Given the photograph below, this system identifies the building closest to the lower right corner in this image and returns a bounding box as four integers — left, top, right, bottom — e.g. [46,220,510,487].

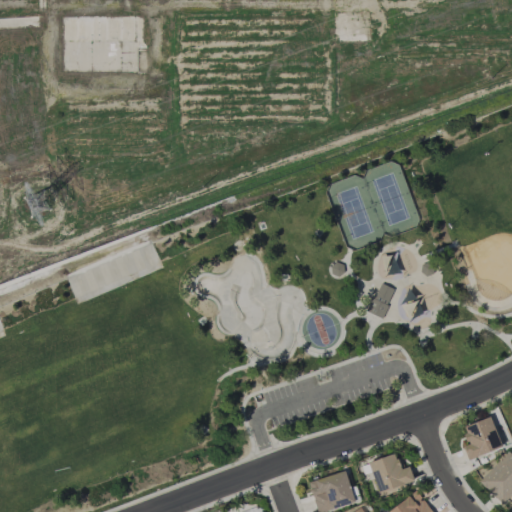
[482,454,512,504]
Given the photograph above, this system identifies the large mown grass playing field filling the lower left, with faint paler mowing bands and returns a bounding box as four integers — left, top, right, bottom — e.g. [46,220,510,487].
[0,250,242,512]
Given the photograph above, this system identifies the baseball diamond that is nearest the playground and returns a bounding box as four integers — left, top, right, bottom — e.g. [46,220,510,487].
[431,118,512,301]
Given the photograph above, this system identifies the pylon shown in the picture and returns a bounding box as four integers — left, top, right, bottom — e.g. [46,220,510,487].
[24,181,52,226]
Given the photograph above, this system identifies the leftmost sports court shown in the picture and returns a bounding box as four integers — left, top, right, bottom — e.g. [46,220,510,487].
[304,311,340,349]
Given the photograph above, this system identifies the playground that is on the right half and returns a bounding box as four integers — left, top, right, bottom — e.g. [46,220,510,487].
[376,245,444,327]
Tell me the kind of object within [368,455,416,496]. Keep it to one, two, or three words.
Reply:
house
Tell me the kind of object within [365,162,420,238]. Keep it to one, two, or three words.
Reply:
tennis court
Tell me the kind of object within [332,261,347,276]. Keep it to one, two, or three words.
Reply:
gazebo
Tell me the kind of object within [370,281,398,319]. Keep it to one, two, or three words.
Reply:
building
